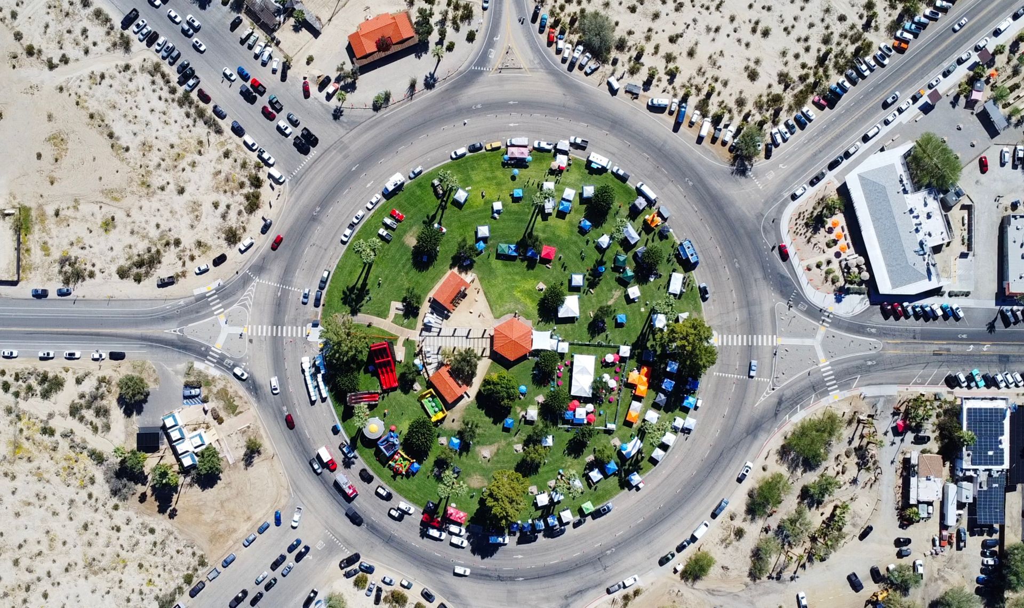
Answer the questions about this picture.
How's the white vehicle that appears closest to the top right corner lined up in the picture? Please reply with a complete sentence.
What the image shows is the white vehicle that appears closest to the top right corner lying on a diagonal.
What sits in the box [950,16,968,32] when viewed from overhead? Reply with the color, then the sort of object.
white car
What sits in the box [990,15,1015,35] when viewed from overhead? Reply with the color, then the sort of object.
white vehicle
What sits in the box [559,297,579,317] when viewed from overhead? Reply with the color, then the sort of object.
white tent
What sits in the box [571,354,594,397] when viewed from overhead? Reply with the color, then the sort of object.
white tent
